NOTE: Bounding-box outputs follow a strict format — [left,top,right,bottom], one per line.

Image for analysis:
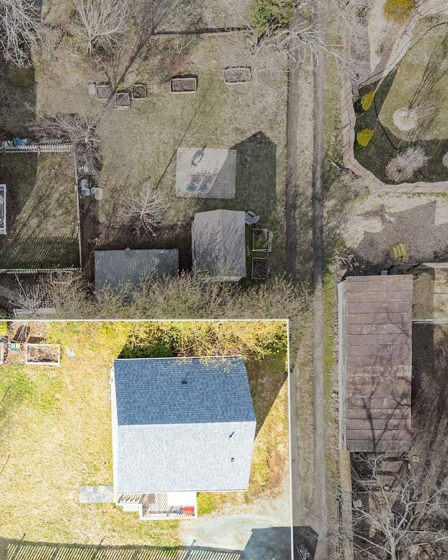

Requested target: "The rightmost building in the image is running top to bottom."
[334,275,413,451]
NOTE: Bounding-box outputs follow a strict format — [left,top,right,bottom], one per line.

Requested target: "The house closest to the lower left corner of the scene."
[109,357,257,494]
